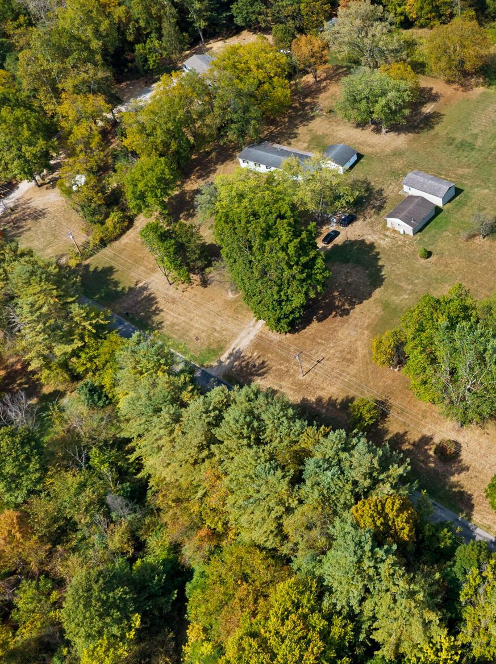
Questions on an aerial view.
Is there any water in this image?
No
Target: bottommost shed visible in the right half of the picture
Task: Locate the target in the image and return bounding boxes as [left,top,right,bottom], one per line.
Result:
[385,194,437,234]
